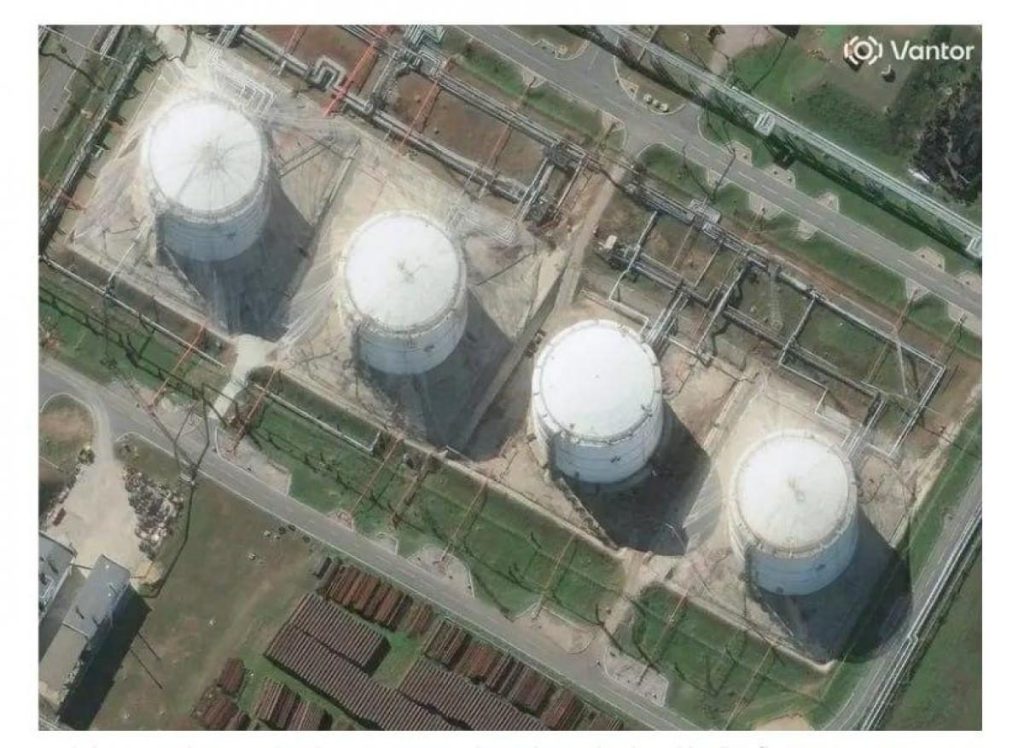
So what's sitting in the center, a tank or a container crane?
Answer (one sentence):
It is a tank that can be seen in the center.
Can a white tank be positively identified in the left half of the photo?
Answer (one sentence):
Yes, I can see a white tank in the left half of the photo.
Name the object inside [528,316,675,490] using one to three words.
storage tank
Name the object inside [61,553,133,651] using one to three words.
building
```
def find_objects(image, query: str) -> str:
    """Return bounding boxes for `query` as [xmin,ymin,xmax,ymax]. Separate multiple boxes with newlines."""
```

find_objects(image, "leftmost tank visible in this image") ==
[136,96,280,264]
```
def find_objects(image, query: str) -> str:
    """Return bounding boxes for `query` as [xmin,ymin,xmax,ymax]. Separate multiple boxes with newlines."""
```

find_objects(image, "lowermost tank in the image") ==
[728,429,871,602]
